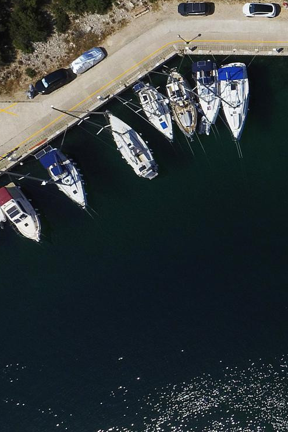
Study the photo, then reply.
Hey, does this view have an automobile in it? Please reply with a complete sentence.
Yes, this view includes an automobile.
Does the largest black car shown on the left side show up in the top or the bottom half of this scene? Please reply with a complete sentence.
The largest black car shown on the left side is in the top half of the image.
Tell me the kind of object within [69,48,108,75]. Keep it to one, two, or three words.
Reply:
car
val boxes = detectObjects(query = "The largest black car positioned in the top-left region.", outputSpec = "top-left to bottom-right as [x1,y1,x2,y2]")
[37,67,72,93]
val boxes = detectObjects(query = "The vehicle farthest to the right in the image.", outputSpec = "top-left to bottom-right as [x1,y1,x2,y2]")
[244,1,278,20]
